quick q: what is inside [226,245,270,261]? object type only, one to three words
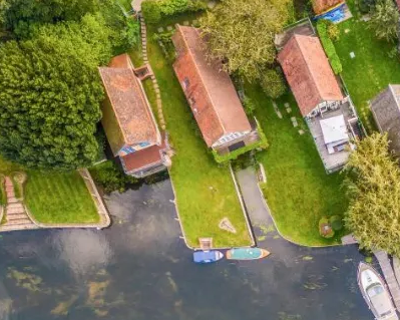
boat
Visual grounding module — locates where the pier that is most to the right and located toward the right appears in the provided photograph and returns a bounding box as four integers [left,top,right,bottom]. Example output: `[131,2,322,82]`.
[374,247,400,311]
